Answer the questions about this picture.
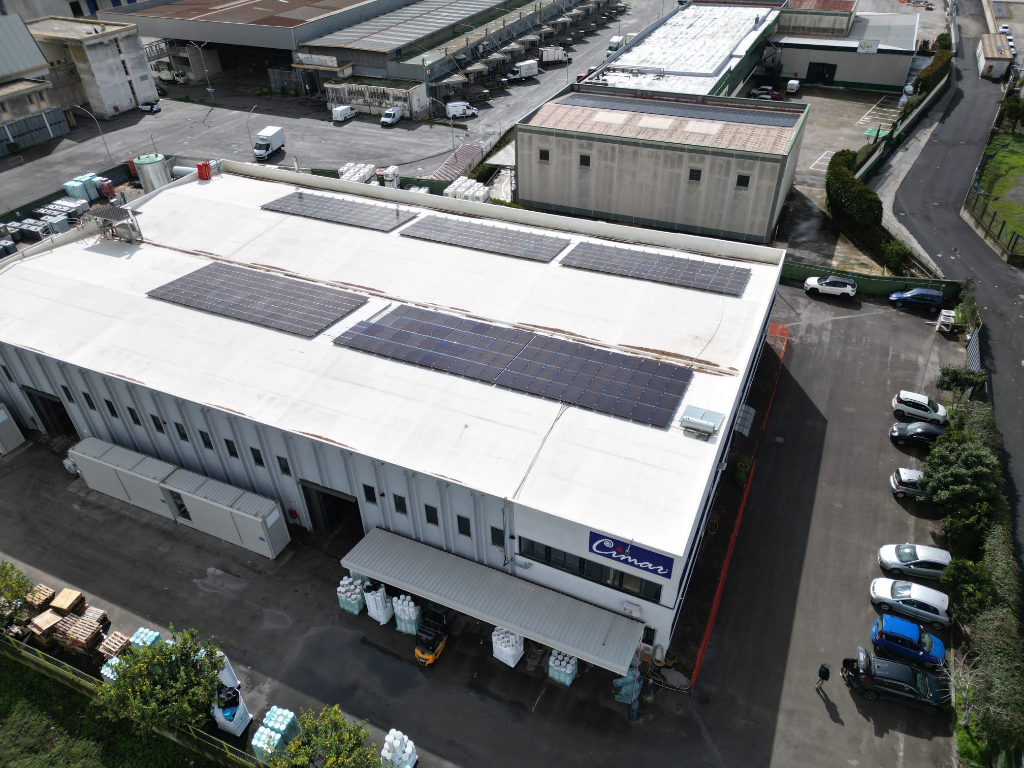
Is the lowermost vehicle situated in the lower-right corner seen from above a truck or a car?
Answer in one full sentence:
It looks like the lowermost vehicle situated in the lower-right corner is a car.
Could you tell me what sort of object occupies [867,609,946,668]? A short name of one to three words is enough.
car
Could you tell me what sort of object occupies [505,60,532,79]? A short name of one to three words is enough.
vehicle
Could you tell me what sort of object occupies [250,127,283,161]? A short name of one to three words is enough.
truck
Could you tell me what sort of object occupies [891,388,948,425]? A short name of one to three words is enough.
car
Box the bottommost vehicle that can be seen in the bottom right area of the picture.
[840,641,955,717]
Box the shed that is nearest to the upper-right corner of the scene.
[976,35,1014,78]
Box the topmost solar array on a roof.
[559,96,796,127]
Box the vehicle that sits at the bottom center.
[415,613,448,673]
